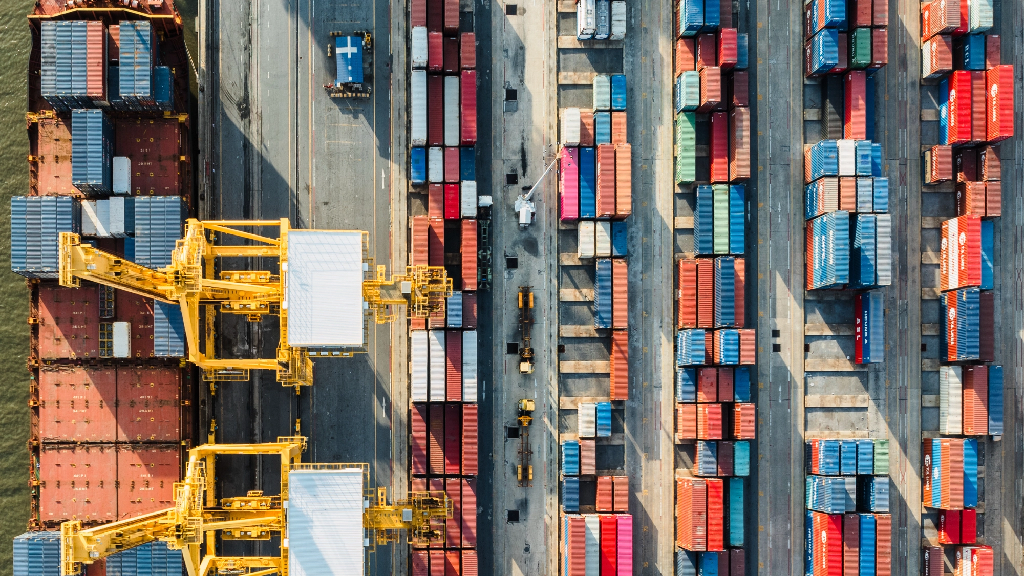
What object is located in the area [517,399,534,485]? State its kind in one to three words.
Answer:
vehicle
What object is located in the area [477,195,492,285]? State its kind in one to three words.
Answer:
vehicle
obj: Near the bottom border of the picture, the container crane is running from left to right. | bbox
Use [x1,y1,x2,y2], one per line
[54,421,456,576]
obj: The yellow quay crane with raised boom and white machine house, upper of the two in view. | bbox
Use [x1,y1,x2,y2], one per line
[53,216,455,397]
